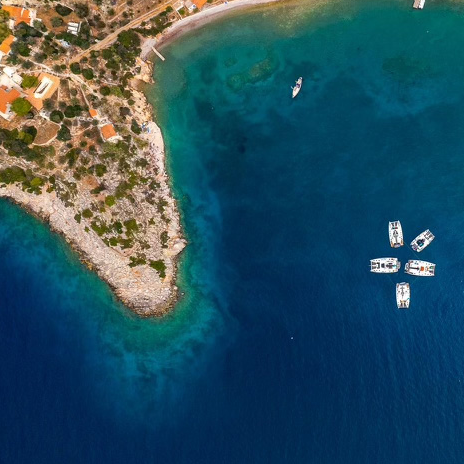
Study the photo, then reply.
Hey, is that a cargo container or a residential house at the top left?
residential house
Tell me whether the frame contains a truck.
No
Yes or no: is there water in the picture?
Yes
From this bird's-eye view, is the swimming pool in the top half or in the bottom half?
top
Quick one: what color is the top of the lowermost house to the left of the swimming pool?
orange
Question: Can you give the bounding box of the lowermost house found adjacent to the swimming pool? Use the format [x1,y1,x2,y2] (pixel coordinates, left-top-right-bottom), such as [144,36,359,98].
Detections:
[0,85,26,119]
